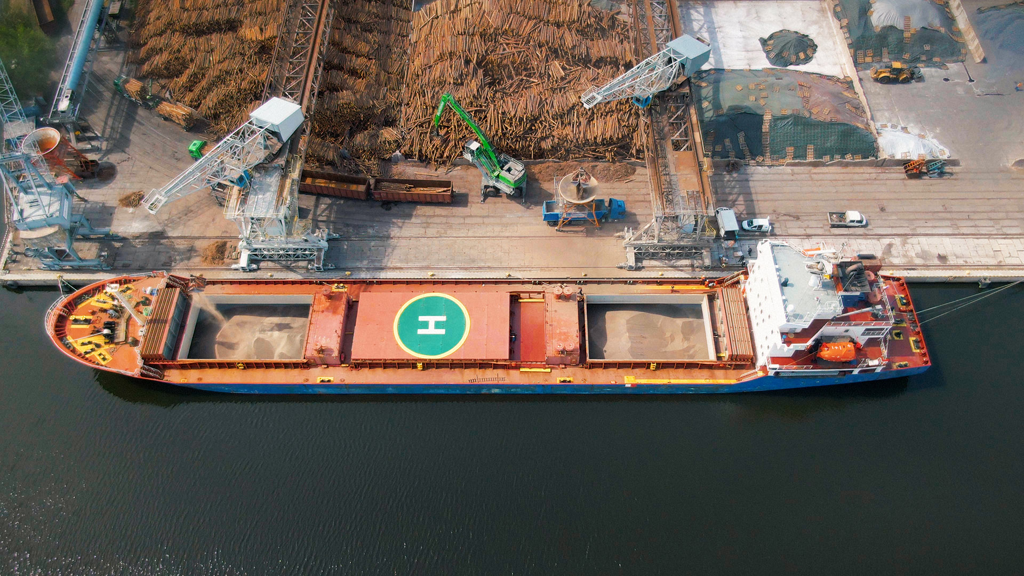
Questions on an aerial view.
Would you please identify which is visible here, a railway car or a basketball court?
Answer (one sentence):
Visible in the photo is a railway car.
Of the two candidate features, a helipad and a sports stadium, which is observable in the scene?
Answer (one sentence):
The one in the frame is a helipad.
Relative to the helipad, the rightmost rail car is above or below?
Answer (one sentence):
The position of the rightmost rail car is above the helipad.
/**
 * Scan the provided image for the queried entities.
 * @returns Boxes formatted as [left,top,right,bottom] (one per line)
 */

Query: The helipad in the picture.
[394,293,470,360]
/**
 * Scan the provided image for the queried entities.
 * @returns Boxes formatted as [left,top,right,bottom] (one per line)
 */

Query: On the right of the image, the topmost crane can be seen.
[566,0,725,268]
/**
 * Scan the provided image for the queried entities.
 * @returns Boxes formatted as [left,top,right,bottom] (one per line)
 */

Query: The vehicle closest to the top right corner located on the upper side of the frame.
[875,64,927,89]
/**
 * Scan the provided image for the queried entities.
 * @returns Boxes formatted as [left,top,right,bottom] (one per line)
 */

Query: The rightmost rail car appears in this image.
[369,178,458,205]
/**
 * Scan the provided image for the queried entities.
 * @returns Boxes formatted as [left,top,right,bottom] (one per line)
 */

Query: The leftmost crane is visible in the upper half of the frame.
[0,79,125,268]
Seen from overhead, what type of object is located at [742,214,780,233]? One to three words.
vehicle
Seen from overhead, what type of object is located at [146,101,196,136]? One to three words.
trailer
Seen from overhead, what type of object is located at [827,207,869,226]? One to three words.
vehicle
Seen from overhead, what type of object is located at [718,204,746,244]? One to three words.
truck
